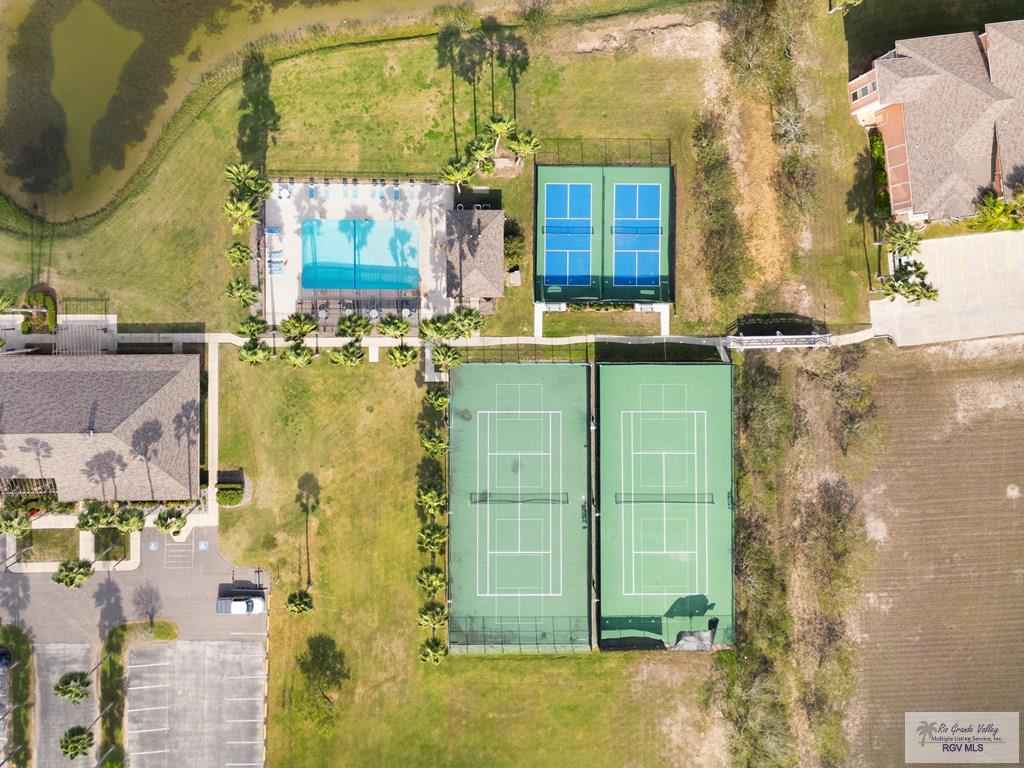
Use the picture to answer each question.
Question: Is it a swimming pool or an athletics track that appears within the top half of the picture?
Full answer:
It is a swimming pool that can be seen within the top half of the picture.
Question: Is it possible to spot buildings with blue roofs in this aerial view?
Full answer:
No, the frame has no building with a blue roof in it.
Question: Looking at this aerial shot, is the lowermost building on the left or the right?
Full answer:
It is on the left.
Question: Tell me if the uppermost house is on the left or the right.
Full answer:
The uppermost house appears in the right half of the scene.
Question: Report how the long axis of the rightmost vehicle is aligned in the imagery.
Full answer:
In this picture, the rightmost vehicle is oriented horizontally.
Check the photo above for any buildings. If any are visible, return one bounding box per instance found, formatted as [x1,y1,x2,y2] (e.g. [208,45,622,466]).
[0,354,201,500]
[852,19,1024,223]
[447,210,504,298]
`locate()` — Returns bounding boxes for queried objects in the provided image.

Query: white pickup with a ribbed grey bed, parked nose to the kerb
[217,595,266,615]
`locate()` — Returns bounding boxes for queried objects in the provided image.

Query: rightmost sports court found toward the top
[604,164,671,299]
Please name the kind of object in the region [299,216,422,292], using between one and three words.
swimming pool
